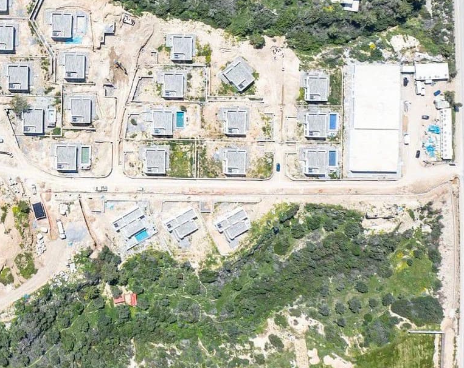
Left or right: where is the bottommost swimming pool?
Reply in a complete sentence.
The bottommost swimming pool is on the left side of the image.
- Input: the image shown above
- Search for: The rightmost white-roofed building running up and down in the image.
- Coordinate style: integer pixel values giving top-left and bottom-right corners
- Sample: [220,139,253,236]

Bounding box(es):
[438,109,453,160]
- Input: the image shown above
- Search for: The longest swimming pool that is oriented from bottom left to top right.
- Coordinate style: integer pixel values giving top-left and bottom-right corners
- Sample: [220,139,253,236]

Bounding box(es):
[122,223,157,248]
